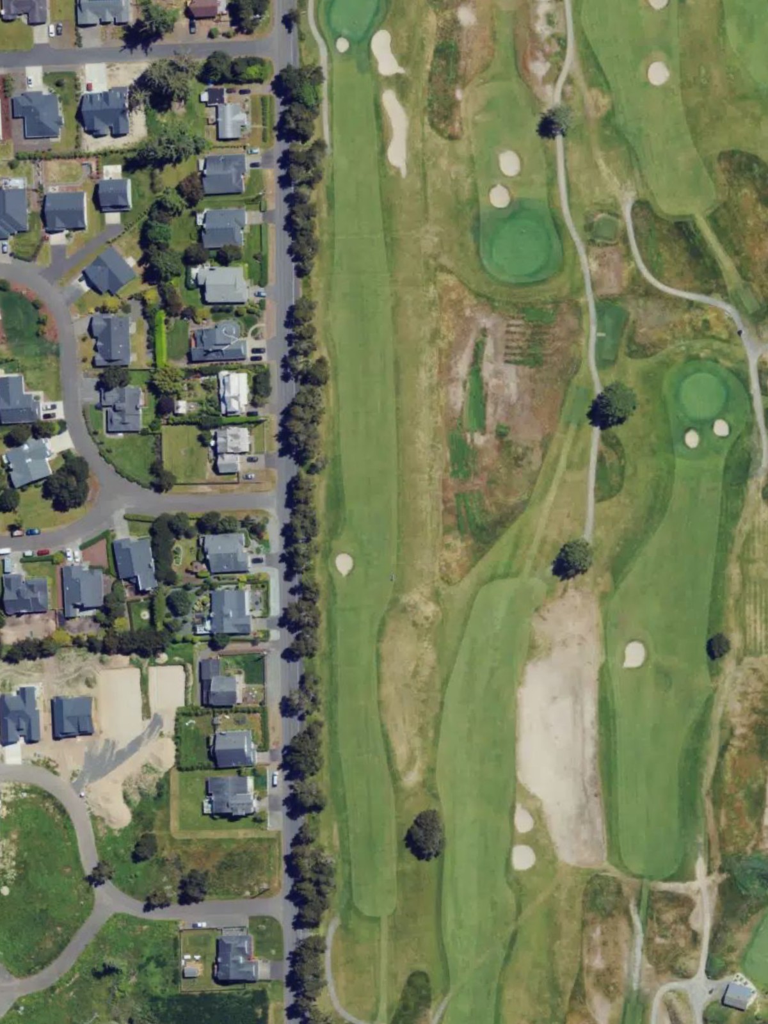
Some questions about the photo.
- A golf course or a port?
golf course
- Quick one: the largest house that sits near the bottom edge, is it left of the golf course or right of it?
to the left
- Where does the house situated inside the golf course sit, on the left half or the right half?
right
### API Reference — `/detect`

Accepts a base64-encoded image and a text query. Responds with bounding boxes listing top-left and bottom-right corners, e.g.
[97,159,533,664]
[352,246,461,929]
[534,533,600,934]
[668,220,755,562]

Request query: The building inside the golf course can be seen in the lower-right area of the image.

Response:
[723,984,755,1010]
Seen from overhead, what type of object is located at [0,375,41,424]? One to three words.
house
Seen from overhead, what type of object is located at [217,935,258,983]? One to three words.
house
